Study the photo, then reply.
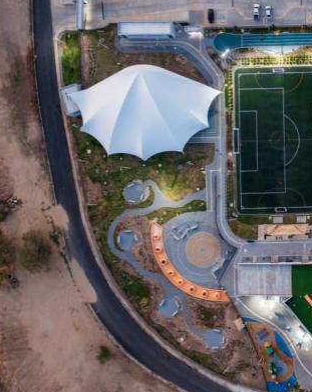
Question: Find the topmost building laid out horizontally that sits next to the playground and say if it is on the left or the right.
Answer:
right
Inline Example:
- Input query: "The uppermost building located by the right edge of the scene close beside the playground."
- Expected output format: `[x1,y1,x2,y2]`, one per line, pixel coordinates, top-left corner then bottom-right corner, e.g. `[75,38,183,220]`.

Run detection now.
[235,262,312,296]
